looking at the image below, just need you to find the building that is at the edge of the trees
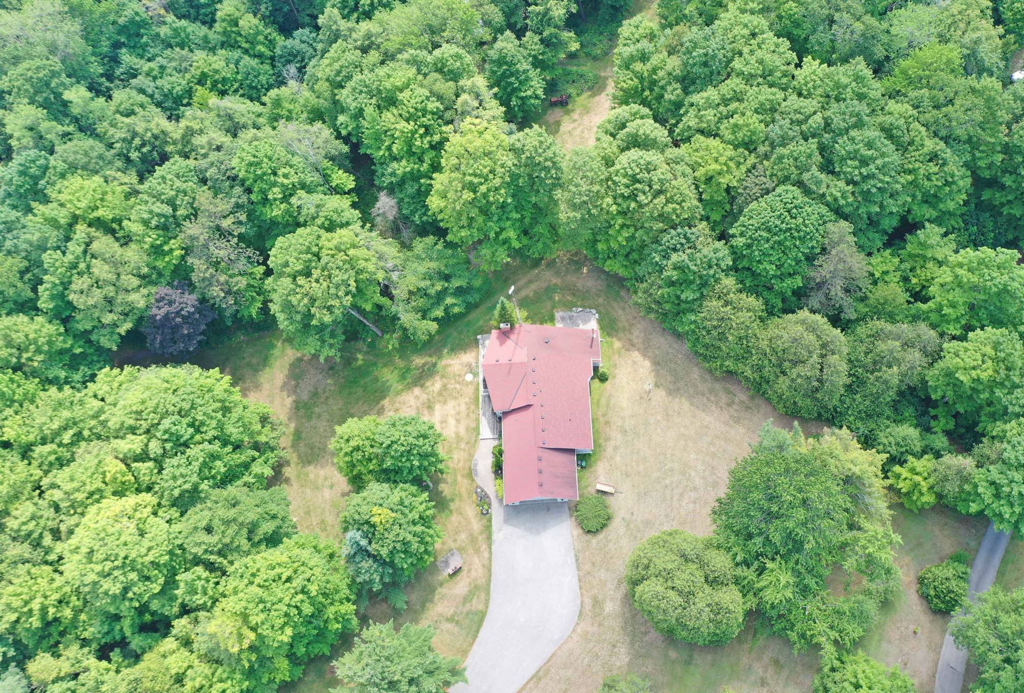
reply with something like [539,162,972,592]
[482,322,606,506]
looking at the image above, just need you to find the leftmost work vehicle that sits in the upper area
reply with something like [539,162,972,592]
[549,93,572,109]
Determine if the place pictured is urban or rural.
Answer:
rural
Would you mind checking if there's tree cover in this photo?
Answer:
Yes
